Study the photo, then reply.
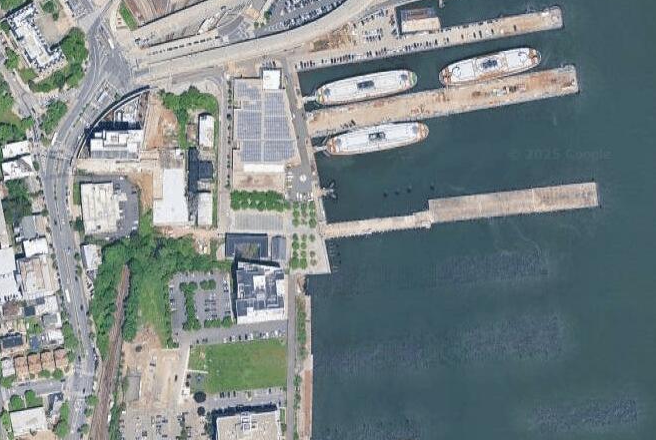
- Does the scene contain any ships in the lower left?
No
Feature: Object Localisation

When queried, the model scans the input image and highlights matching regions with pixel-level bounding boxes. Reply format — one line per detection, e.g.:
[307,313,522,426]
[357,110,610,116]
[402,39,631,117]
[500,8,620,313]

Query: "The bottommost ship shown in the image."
[324,124,430,161]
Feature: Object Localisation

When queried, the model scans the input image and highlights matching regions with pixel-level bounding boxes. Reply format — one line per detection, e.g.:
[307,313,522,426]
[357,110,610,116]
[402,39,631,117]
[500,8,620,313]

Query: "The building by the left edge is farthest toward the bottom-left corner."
[10,407,47,438]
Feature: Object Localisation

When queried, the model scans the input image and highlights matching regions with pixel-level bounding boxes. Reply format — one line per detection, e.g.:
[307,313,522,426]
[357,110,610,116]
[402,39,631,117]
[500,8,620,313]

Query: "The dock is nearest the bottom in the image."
[324,209,433,240]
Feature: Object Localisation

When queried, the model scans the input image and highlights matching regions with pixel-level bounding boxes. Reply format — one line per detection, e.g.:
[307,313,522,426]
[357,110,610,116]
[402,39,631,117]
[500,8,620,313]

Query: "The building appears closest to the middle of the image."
[272,236,286,262]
